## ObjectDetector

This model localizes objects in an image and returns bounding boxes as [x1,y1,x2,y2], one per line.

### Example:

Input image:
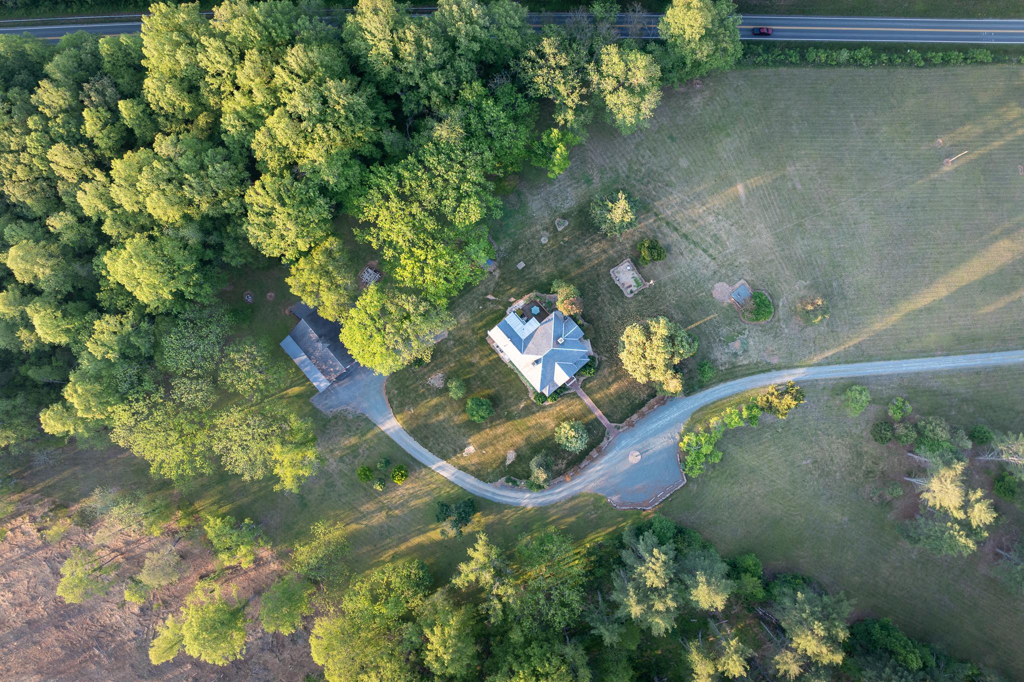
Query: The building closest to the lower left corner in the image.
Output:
[282,300,359,393]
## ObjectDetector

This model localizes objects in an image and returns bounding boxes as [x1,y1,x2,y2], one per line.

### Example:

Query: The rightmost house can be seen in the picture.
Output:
[488,312,590,396]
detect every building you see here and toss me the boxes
[282,300,359,393]
[488,312,590,396]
